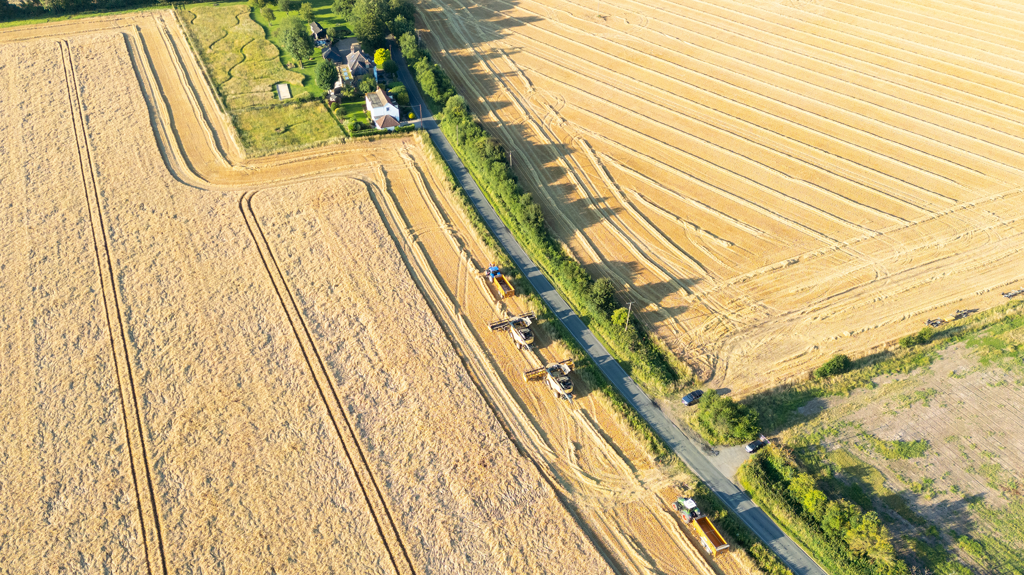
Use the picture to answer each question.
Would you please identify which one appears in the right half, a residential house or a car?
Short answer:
car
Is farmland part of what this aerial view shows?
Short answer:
Yes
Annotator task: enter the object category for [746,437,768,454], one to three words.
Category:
car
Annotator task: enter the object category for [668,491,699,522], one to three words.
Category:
work vehicle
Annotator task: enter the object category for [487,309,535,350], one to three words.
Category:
work vehicle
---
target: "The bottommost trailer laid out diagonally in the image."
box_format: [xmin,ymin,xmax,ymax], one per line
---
[691,512,731,559]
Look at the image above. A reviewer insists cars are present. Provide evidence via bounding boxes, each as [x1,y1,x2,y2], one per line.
[746,437,768,454]
[682,389,704,407]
